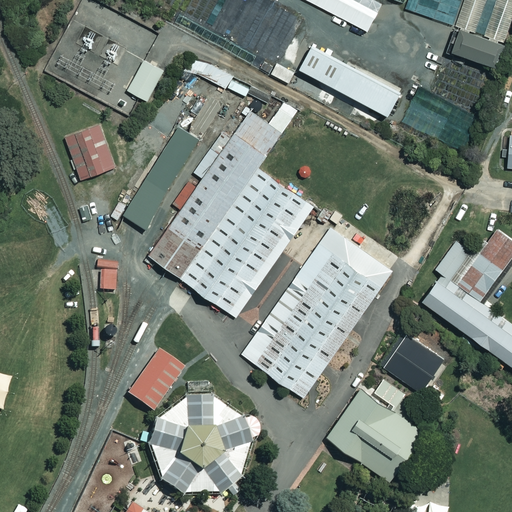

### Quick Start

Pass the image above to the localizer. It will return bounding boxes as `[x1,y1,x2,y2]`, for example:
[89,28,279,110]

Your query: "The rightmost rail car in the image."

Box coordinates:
[134,323,147,344]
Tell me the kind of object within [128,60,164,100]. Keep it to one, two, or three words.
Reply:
building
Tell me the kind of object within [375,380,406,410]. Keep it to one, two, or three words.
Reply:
house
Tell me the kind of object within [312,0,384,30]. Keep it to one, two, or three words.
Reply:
shed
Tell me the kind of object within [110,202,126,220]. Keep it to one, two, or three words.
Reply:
camper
